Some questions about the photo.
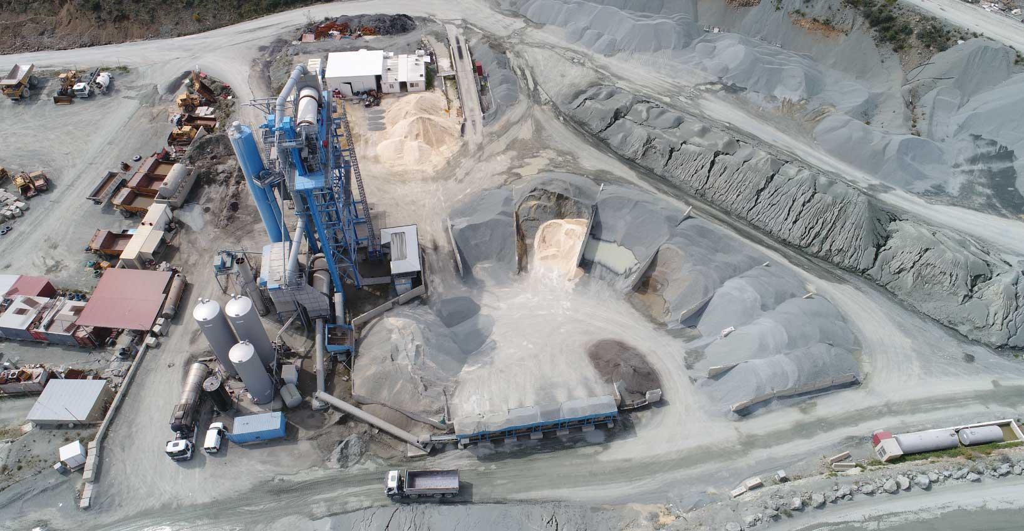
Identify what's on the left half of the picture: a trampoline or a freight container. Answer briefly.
freight container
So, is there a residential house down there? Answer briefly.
Yes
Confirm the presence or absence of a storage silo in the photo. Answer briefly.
Yes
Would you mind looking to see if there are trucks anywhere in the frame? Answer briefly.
Yes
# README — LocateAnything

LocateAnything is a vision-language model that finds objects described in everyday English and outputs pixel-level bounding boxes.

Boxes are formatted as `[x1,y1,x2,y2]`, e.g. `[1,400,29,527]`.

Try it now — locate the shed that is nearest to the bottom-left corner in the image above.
[62,439,89,474]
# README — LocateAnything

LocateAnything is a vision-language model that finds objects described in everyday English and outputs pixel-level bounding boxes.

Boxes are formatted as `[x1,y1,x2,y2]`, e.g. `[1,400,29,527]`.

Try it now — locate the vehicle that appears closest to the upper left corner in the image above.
[0,64,37,100]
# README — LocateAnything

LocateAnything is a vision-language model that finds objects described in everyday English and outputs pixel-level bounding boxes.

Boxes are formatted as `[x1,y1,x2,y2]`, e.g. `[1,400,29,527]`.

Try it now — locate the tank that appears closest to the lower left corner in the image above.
[200,376,231,413]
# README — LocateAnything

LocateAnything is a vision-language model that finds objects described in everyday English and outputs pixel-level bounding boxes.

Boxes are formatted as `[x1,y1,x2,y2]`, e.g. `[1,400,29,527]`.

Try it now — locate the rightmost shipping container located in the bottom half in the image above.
[216,410,291,446]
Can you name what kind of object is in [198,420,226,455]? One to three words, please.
van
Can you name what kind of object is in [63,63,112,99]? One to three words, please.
truck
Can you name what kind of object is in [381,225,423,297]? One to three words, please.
building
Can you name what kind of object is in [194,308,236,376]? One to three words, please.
silo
